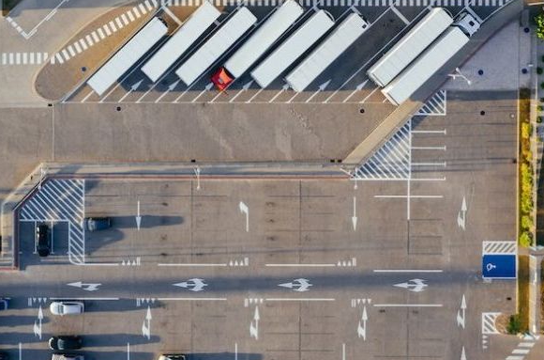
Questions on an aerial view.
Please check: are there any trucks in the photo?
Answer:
Yes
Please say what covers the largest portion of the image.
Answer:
paved ground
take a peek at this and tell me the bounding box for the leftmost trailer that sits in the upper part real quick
[88,18,166,95]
